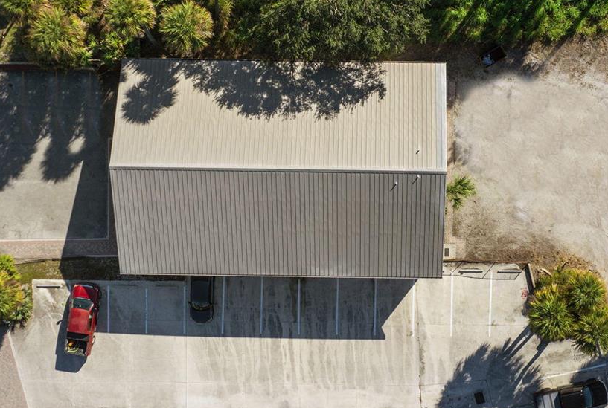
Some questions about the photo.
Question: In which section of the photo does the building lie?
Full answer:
The building is in the center part of the image.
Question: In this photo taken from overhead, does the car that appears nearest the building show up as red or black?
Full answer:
From above, the car that appears nearest the building appears black.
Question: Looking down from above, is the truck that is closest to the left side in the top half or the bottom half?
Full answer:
It is in the bottom half that the truck that is closest to the left side appears.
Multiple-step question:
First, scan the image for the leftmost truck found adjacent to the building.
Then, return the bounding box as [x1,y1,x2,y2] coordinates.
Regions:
[63,282,101,358]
